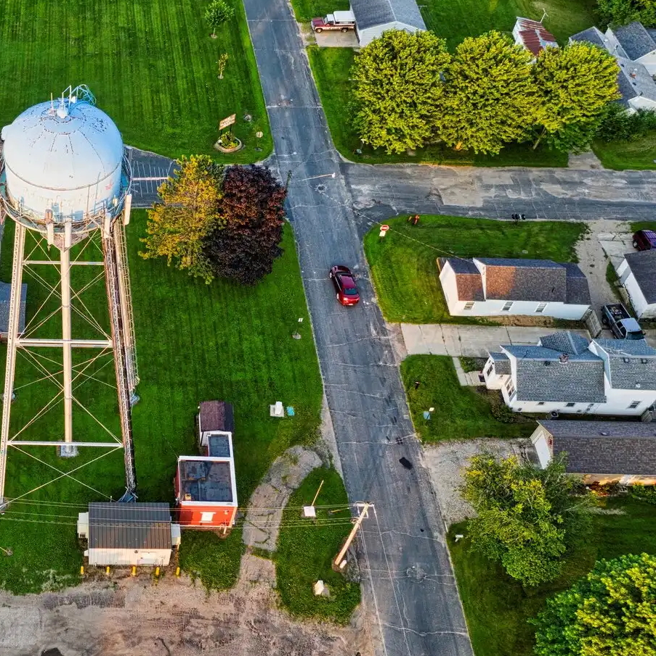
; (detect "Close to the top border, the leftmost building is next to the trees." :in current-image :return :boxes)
[347,0,427,47]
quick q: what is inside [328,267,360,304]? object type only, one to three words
car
